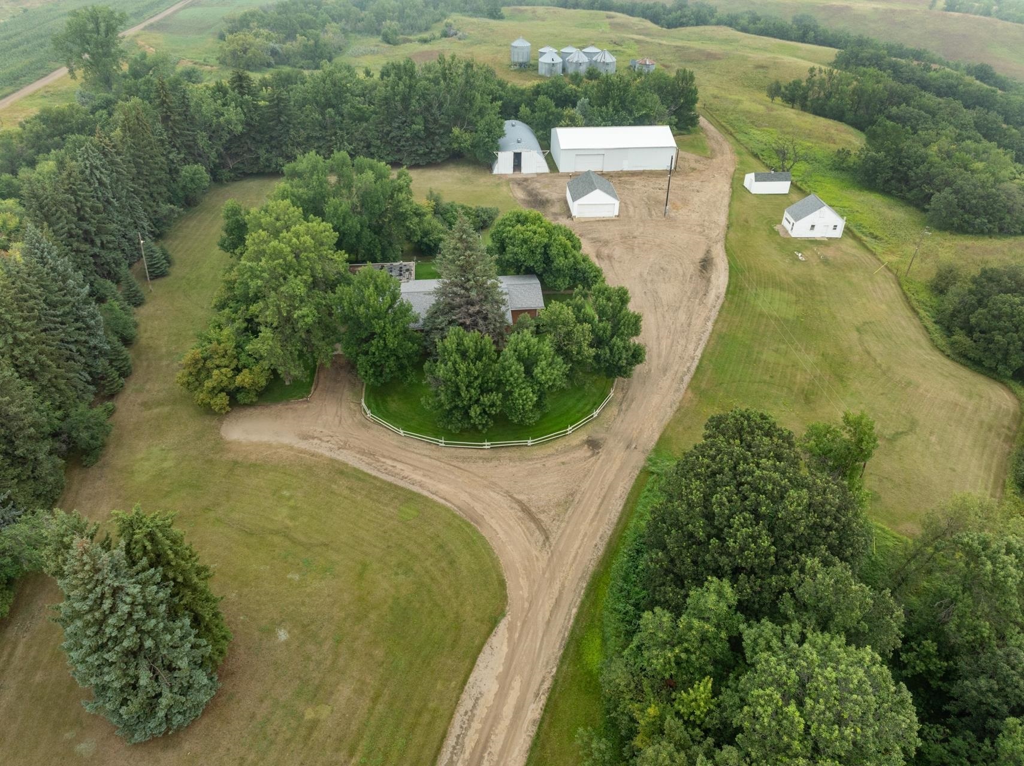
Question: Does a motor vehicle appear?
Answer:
No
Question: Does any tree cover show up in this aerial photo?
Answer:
Yes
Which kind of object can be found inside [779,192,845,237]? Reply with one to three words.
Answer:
building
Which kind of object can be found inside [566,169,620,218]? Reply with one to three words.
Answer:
building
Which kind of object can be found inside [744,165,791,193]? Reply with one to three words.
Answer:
shed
